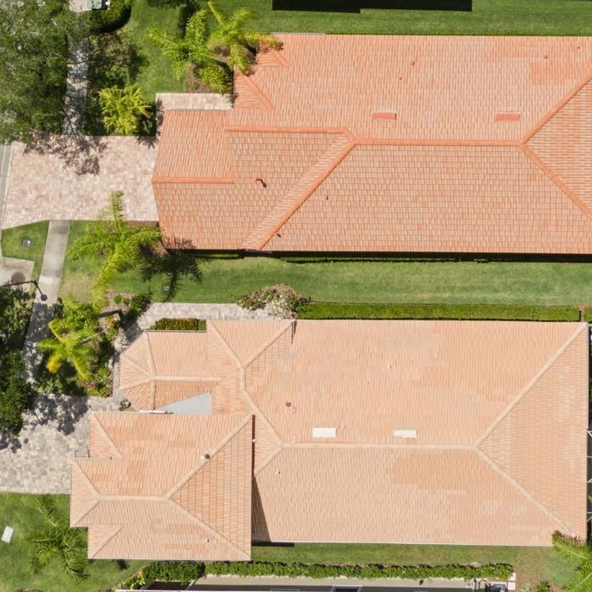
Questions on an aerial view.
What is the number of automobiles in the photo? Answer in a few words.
zero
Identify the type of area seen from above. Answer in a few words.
residential area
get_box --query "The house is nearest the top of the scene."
[152,33,592,255]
